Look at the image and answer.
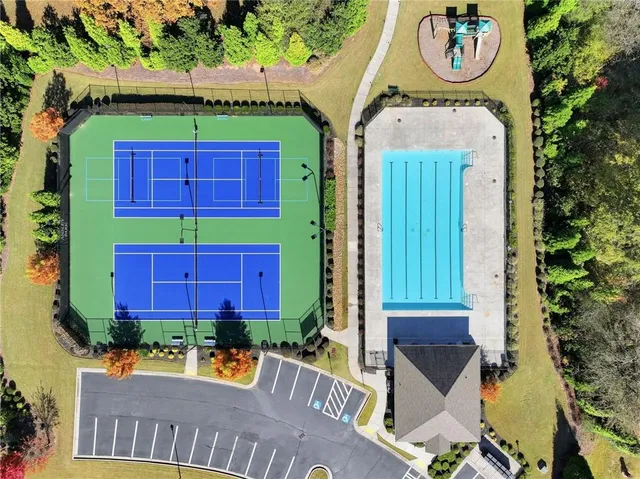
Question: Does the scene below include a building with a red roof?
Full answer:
No, no building with a red roof can be seen from above.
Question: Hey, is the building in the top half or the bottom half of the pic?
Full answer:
The building sits in the bottom half of the picture.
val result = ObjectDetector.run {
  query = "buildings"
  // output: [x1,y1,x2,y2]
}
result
[393,344,481,456]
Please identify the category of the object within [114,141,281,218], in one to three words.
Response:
tennis court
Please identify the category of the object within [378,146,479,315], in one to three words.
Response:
swimming pool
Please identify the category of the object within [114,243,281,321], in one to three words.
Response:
tennis court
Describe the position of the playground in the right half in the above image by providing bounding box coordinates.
[433,23,491,68]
